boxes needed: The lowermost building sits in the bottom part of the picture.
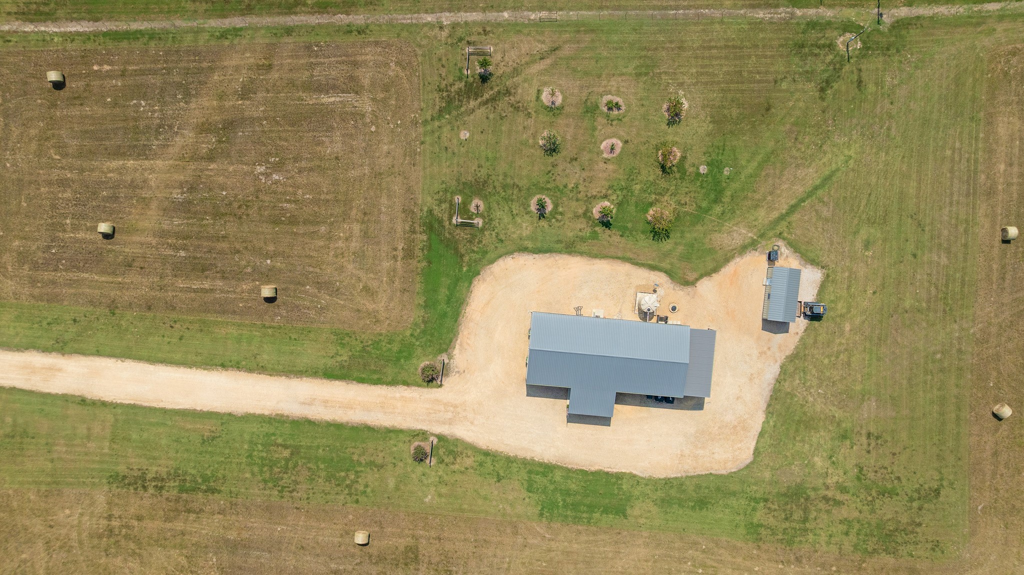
[525,311,716,418]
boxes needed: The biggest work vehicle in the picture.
[796,300,827,317]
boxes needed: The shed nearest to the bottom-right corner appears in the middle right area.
[762,267,801,323]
